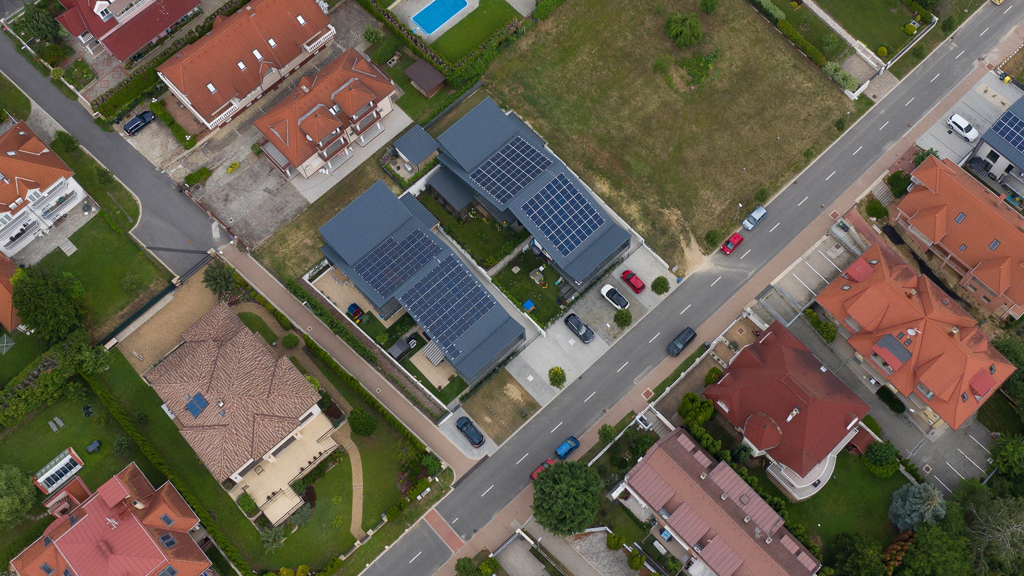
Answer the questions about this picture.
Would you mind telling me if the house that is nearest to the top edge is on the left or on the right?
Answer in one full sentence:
You can find the house that is nearest to the top edge on the left side of the picture.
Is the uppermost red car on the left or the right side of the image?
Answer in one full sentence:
You can find the uppermost red car on the right side of the picture.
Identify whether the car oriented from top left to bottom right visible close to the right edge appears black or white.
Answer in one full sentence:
The color of the car oriented from top left to bottom right visible close to the right edge is white.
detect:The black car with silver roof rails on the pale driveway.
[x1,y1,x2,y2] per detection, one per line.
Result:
[562,310,597,344]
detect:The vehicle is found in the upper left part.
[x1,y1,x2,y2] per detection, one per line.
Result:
[122,112,156,135]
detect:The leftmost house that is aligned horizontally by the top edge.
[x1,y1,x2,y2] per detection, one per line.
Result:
[56,0,203,65]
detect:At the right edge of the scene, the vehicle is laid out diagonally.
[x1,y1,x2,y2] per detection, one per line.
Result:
[944,112,978,142]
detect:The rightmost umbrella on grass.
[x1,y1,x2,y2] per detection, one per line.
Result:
[529,245,544,258]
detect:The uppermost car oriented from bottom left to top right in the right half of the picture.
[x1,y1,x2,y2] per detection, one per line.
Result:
[741,204,770,232]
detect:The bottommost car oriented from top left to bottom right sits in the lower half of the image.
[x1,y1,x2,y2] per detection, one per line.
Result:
[454,416,487,450]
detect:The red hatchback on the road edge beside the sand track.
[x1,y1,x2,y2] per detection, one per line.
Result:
[719,230,747,257]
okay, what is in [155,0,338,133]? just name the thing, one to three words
house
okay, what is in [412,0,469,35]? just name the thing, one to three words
swimming pool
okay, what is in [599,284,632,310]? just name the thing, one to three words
car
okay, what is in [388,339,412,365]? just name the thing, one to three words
shed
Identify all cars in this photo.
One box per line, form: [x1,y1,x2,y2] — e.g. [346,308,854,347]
[665,324,700,357]
[944,112,978,142]
[719,230,747,257]
[122,112,156,135]
[599,284,632,310]
[454,416,487,450]
[562,310,597,344]
[741,204,770,232]
[619,269,649,296]
[552,435,581,462]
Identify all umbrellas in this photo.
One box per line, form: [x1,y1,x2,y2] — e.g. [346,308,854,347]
[529,245,544,258]
[969,154,989,173]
